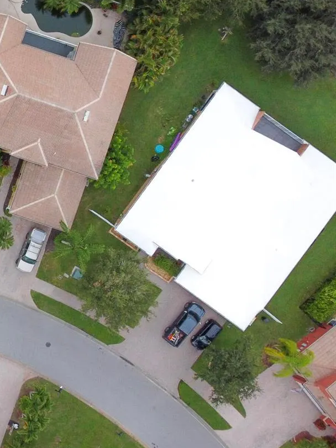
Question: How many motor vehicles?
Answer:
3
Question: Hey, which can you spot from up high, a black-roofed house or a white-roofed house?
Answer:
white-roofed house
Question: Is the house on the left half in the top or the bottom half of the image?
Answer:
top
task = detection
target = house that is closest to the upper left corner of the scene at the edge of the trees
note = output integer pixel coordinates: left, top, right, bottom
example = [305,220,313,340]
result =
[0,11,137,230]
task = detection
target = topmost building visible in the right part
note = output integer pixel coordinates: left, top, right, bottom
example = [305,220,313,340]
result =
[111,81,336,332]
